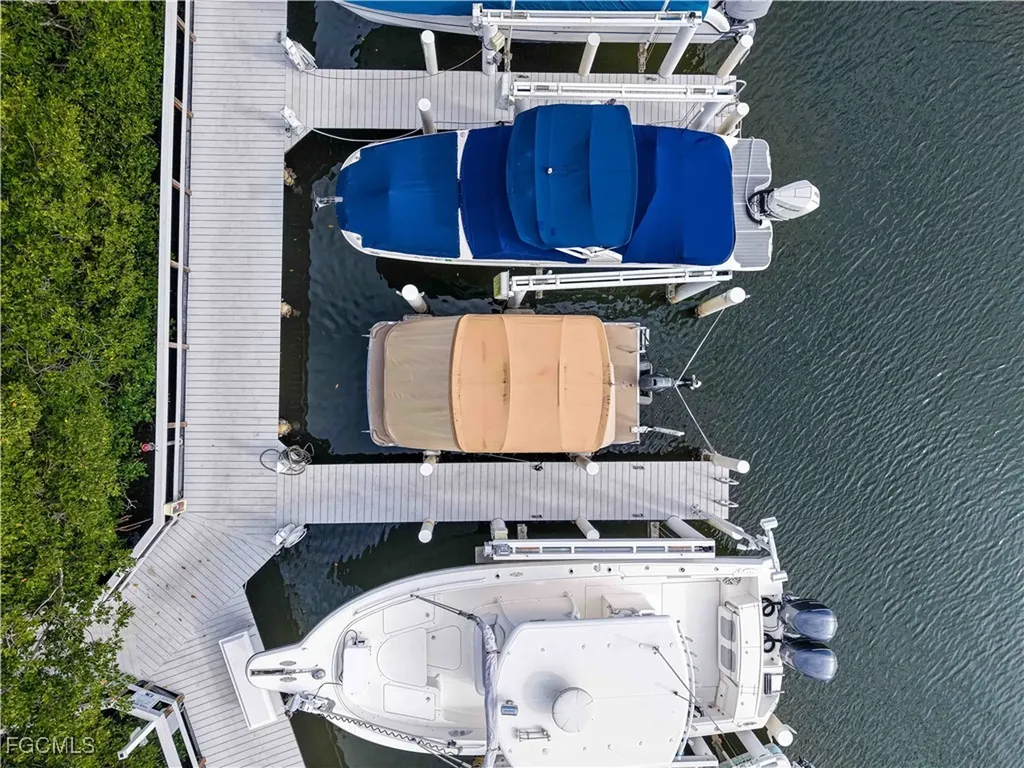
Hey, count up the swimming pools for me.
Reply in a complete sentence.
The picture shows no swimming pools.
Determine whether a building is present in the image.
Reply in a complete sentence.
No, there appears to be no building in this shot.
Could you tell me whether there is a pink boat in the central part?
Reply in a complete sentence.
No, I see no pink boat in the central part.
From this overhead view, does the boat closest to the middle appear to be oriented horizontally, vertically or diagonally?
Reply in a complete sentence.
The boat closest to the middle is laid out horizontally.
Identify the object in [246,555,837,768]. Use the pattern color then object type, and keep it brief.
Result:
white boat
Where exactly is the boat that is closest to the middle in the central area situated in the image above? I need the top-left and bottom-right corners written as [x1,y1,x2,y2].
[361,307,705,460]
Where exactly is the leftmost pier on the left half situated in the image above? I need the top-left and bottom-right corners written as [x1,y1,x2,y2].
[63,0,311,768]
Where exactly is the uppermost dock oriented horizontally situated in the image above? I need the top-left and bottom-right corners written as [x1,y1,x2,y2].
[285,38,739,154]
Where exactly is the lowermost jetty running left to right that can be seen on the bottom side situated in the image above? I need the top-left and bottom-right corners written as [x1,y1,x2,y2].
[276,440,728,550]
